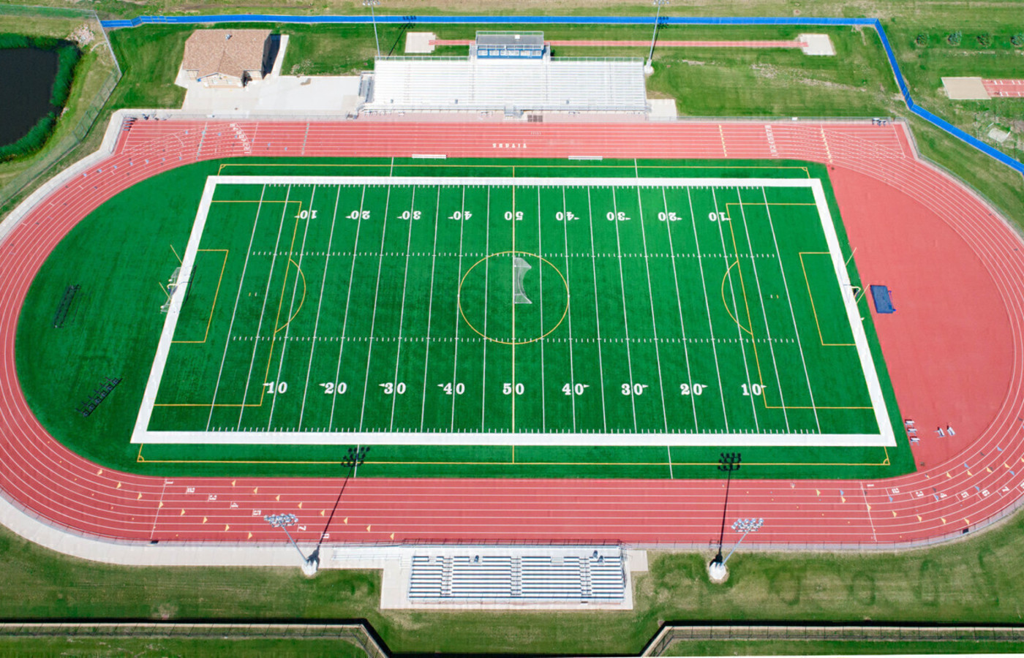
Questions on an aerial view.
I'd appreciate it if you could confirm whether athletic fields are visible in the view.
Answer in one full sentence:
Yes, I can see an athletic field in this picture.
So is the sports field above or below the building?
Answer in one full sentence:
Relative to the building, the sports field lies below it.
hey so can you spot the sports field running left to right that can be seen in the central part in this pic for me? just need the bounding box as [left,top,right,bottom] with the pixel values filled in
[14,156,919,480]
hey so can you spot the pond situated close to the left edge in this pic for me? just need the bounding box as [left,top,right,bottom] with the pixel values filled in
[0,40,79,148]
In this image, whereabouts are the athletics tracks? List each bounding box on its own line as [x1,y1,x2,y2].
[0,114,1024,553]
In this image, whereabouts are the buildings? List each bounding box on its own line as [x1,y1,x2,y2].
[181,29,272,90]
